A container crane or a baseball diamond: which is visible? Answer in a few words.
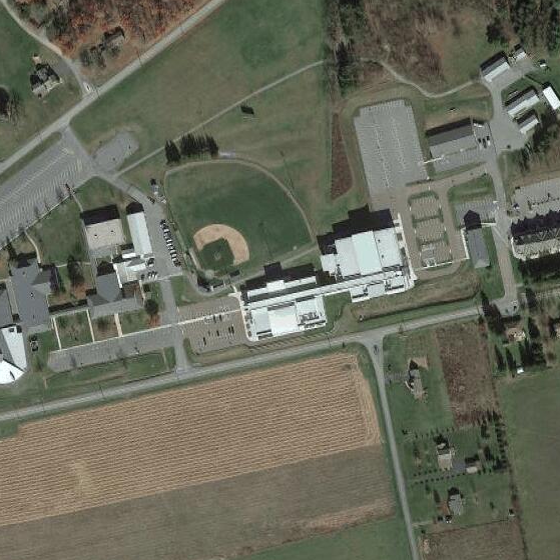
baseball diamond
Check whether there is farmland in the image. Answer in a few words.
Yes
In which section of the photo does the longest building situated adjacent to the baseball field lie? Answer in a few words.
center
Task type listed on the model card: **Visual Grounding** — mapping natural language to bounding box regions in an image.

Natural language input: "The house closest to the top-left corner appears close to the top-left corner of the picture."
[32,69,60,96]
